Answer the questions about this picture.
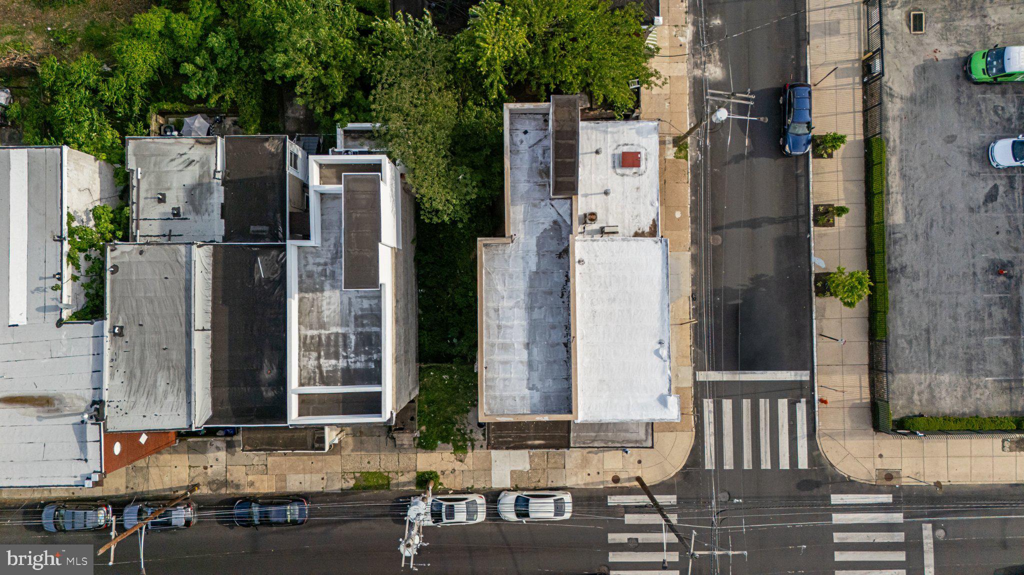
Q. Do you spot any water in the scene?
No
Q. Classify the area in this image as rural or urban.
urban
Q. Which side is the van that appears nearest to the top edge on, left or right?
right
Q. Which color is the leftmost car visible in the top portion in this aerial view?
blue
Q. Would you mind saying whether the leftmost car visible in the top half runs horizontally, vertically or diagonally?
vertically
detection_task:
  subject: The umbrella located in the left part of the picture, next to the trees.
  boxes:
[180,114,209,137]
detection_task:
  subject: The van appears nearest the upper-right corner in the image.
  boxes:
[963,44,1024,84]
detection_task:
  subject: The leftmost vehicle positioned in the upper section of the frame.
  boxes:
[778,82,815,157]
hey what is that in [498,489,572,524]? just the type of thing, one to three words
car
